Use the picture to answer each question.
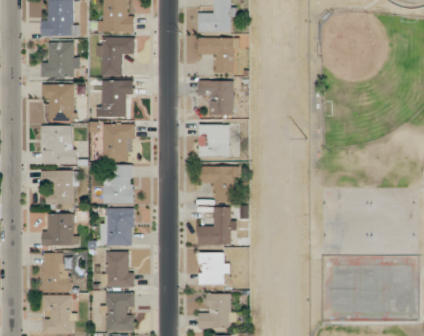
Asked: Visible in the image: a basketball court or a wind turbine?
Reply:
basketball court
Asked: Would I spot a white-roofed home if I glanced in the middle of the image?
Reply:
Yes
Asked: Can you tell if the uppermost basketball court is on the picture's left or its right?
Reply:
right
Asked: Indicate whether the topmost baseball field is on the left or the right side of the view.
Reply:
right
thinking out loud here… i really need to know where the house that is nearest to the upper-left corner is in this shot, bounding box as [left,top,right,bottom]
[40,0,80,36]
